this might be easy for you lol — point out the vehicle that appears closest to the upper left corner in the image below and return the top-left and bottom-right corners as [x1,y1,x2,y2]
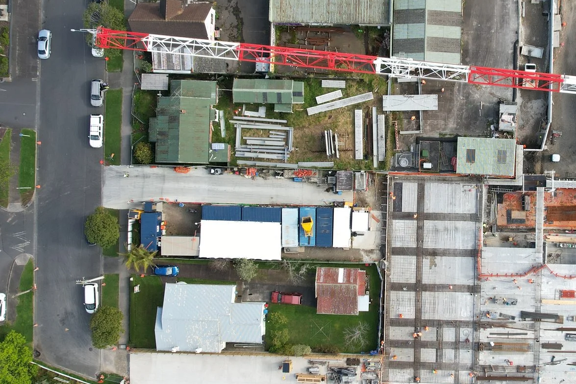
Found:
[36,30,51,60]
